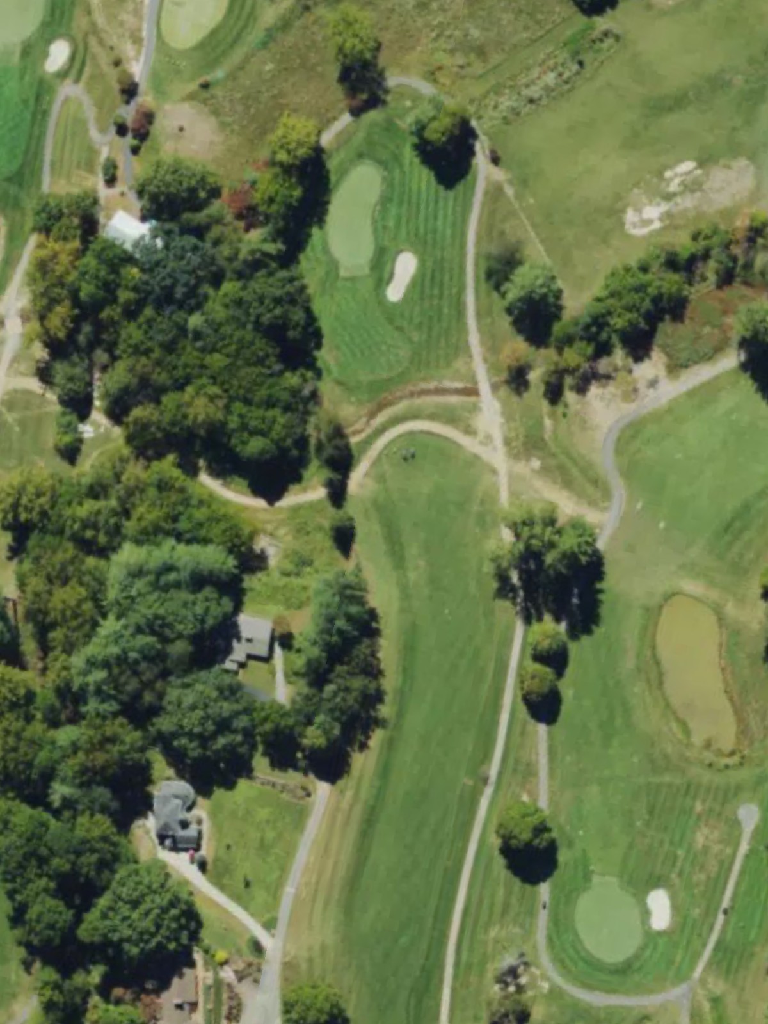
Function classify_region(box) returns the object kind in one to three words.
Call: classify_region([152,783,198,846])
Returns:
house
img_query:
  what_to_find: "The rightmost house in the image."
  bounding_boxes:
[223,614,275,670]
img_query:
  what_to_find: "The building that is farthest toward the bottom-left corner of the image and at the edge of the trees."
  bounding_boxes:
[154,966,201,1024]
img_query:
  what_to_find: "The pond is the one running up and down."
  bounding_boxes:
[656,594,736,751]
